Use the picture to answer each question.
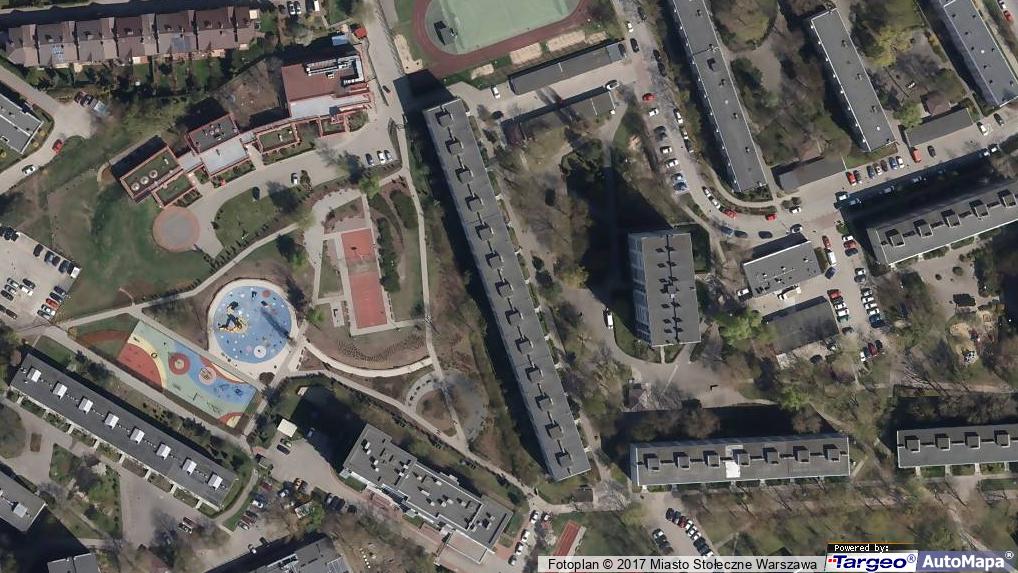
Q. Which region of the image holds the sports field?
top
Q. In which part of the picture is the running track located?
top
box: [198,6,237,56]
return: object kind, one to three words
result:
house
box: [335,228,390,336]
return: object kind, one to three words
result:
sports court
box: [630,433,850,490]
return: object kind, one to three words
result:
building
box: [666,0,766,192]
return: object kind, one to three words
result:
building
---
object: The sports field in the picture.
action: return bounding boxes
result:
[413,0,594,78]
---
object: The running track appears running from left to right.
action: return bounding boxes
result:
[413,0,594,78]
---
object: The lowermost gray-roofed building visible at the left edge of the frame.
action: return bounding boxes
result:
[48,544,100,573]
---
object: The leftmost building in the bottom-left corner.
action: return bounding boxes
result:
[0,467,48,530]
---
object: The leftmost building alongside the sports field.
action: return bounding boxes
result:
[121,55,372,208]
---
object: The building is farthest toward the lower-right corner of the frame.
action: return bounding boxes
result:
[888,420,1018,472]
